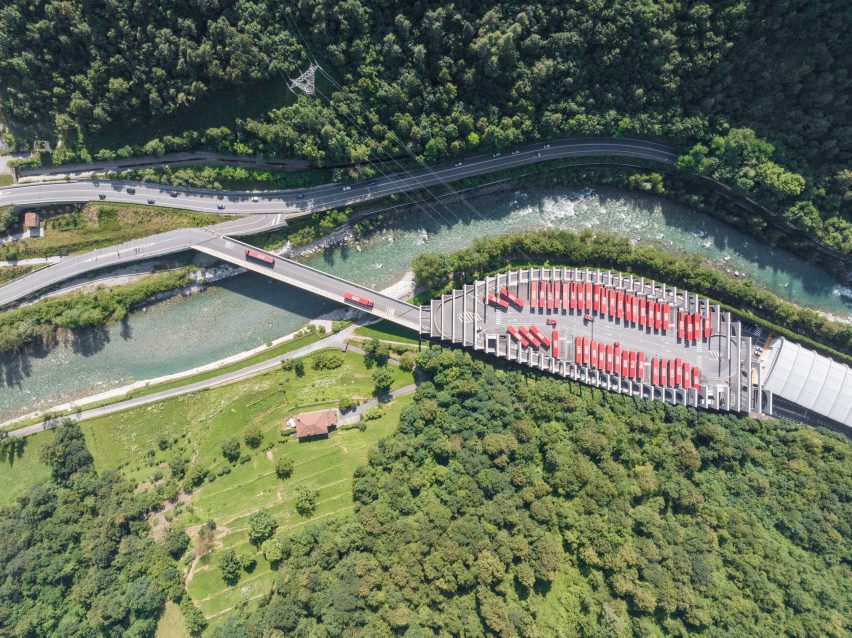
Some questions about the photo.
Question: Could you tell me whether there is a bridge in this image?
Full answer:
Yes, looking at the shot, I can spot a bridge.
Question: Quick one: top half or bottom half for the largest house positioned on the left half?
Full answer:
It is in the bottom half that the largest house positioned on the left half appears.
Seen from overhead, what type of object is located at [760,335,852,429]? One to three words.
building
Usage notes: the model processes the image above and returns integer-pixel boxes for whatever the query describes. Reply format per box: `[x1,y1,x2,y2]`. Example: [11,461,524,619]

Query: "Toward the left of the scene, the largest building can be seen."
[295,408,338,438]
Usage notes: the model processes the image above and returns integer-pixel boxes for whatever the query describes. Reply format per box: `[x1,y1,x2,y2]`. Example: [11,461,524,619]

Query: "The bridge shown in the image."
[190,227,419,330]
